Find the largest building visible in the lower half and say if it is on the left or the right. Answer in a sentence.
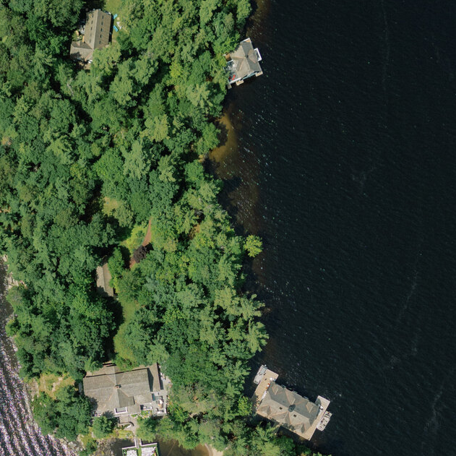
The largest building visible in the lower half appears in the left half of the scene.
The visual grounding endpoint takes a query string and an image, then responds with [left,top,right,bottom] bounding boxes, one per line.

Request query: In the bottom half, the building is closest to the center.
[96,262,117,302]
